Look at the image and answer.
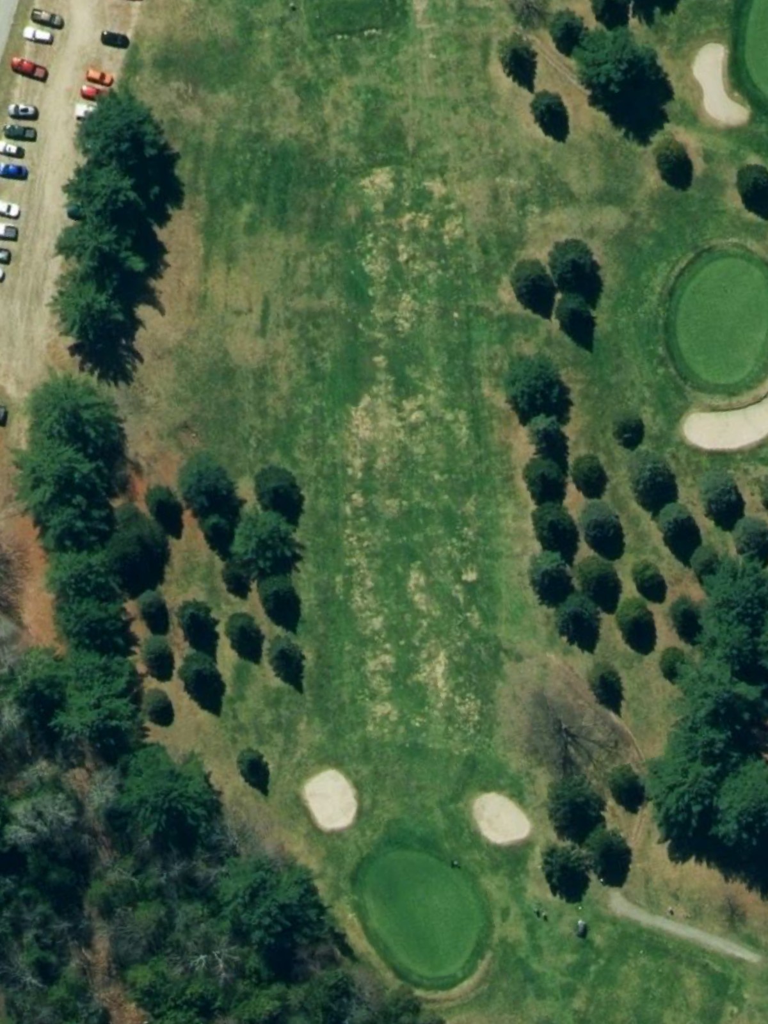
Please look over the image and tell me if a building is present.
No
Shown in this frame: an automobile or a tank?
automobile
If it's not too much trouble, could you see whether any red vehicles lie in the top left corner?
Yes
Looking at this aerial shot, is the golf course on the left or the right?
right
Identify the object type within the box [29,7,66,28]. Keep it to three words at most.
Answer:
truck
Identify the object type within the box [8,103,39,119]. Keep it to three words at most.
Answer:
car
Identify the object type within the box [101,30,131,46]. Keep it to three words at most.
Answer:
car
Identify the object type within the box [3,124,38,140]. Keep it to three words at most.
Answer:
vehicle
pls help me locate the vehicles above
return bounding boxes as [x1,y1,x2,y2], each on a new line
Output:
[101,30,131,46]
[23,26,54,43]
[63,204,91,217]
[0,224,19,238]
[0,202,21,217]
[8,103,39,119]
[29,7,66,28]
[10,57,50,79]
[3,124,38,140]
[0,142,25,158]
[0,250,11,263]
[74,102,95,118]
[0,162,28,178]
[86,68,114,85]
[79,83,107,99]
